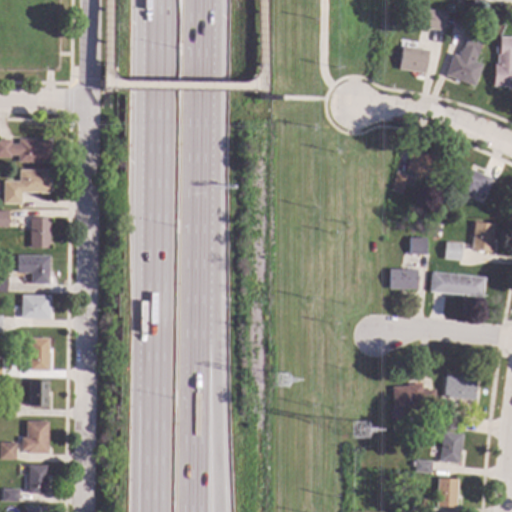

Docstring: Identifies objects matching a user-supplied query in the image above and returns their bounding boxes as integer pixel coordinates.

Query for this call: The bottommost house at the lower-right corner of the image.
[438,478,460,507]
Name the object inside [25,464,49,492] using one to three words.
house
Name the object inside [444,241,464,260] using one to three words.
building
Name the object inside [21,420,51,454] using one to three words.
house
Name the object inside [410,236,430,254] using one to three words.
building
